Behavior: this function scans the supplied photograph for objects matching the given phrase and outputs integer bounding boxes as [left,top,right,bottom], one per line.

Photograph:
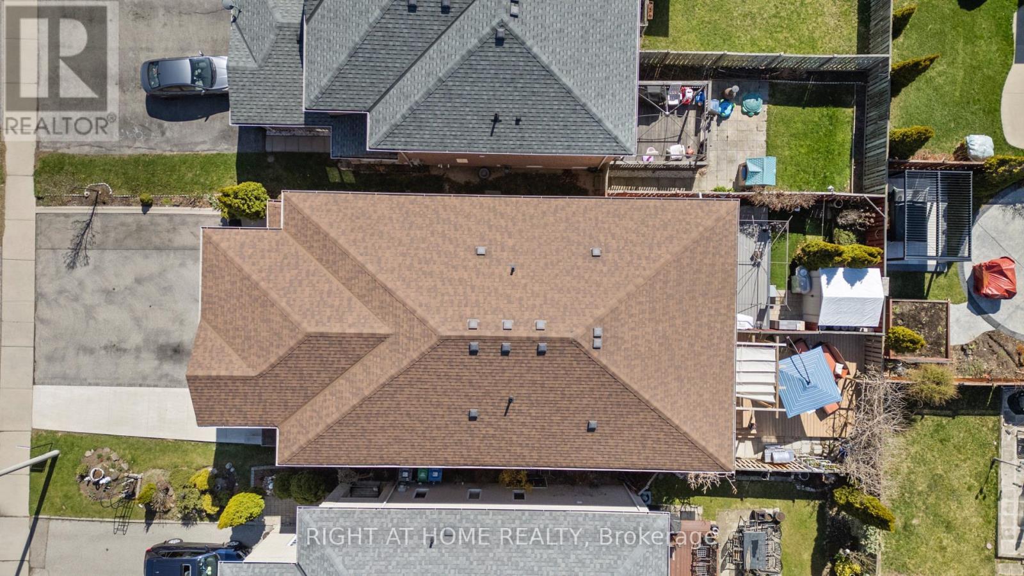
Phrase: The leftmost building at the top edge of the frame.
[227,0,637,169]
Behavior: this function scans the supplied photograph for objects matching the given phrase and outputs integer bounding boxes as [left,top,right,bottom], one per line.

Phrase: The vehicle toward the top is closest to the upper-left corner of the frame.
[143,52,230,100]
